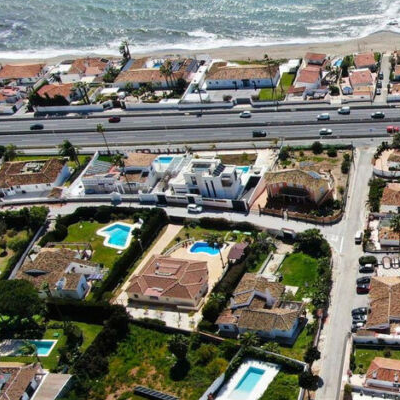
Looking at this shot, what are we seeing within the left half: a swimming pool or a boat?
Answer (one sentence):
There is a swimming pool within the left half.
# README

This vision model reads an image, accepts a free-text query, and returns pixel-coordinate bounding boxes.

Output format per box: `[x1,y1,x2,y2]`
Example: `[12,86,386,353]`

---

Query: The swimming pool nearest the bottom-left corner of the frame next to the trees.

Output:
[26,338,61,358]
